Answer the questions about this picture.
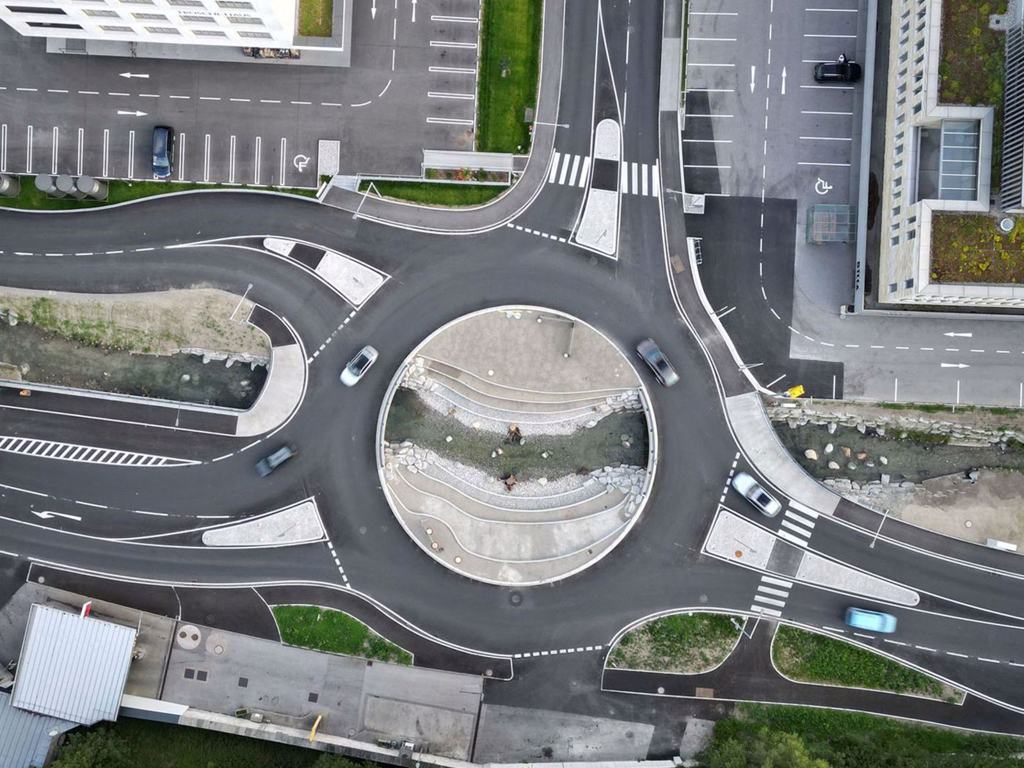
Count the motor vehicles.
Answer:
8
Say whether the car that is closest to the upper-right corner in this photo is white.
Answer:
No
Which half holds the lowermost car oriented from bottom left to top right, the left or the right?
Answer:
left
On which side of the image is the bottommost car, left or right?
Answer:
right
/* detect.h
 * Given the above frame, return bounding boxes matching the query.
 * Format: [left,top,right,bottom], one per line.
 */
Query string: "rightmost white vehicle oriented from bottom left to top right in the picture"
[340,344,379,389]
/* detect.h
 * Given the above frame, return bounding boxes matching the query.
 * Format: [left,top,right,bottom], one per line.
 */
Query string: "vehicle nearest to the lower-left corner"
[254,444,298,479]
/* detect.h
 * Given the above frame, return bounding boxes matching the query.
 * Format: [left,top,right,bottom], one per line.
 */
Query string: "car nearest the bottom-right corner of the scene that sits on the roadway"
[846,608,896,634]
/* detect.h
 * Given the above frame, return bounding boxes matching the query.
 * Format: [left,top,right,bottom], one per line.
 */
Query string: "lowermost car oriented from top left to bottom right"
[734,473,781,517]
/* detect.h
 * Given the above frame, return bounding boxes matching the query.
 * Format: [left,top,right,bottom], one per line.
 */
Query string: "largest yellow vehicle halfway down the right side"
[781,381,809,402]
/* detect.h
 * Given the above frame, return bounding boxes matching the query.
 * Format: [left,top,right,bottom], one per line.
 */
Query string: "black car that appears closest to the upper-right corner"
[812,52,861,86]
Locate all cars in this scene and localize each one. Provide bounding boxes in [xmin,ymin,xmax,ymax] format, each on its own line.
[638,340,678,386]
[147,127,173,177]
[846,608,896,634]
[340,344,379,389]
[734,473,781,517]
[812,52,861,86]
[254,444,298,479]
